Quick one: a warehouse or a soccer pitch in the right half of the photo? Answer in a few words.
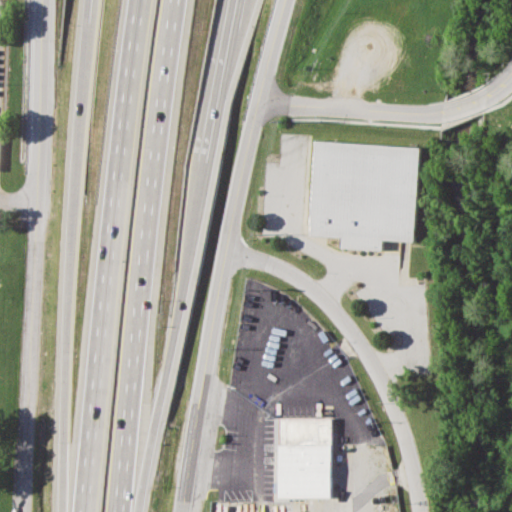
warehouse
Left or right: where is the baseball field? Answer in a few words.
right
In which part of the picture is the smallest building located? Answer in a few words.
bottom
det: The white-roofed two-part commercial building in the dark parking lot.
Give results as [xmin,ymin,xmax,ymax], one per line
[277,418,332,500]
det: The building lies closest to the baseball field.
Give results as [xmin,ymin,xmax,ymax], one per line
[310,141,420,252]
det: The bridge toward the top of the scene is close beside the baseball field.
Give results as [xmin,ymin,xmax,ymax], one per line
[442,62,512,130]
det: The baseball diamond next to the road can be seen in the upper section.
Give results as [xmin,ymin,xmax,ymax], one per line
[286,0,448,104]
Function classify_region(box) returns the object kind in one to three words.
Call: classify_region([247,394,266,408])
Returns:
vehicle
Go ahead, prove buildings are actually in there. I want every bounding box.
[310,141,420,252]
[277,418,332,500]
